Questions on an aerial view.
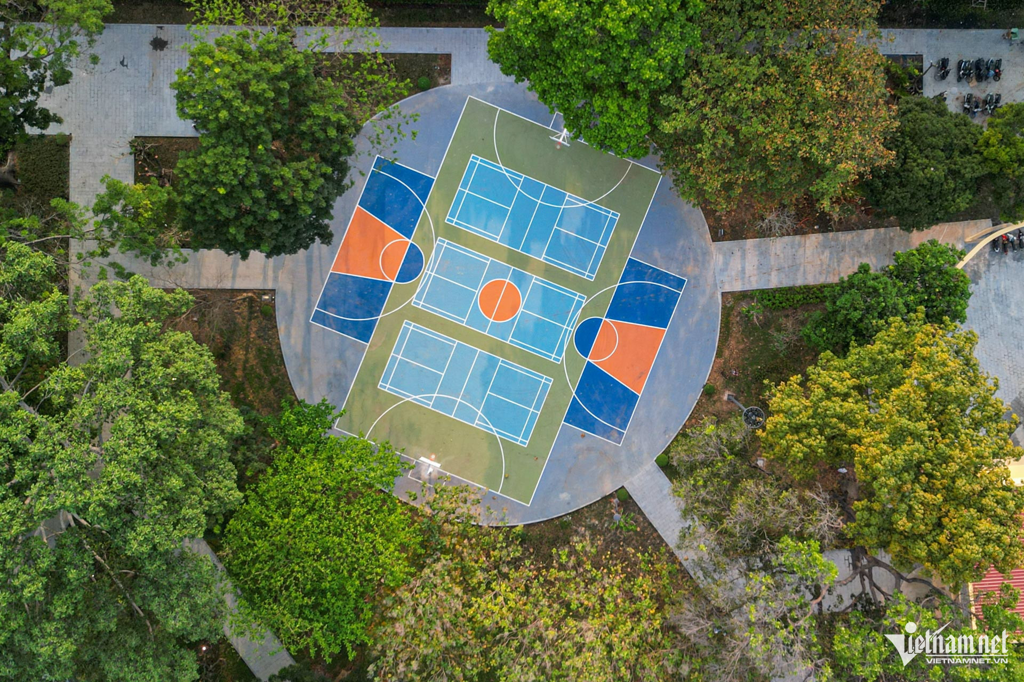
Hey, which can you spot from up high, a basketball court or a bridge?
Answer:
basketball court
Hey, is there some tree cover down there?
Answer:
Yes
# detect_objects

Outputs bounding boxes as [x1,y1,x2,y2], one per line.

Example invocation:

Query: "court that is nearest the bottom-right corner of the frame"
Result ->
[562,256,688,448]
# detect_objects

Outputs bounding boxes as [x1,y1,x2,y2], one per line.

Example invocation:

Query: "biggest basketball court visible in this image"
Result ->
[335,94,662,507]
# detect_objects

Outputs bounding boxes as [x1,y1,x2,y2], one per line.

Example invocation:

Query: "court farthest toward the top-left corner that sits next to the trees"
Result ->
[309,153,435,345]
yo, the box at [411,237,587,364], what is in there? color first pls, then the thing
blue sports court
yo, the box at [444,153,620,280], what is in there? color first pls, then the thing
blue sports court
